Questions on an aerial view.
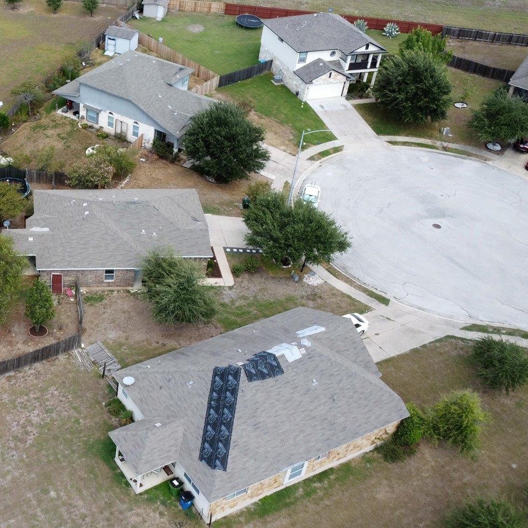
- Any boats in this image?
No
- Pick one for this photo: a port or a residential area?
residential area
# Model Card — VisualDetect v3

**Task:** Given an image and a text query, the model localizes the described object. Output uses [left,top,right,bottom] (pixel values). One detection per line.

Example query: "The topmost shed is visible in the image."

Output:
[143,0,169,21]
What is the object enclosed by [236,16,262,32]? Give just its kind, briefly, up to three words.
trampoline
